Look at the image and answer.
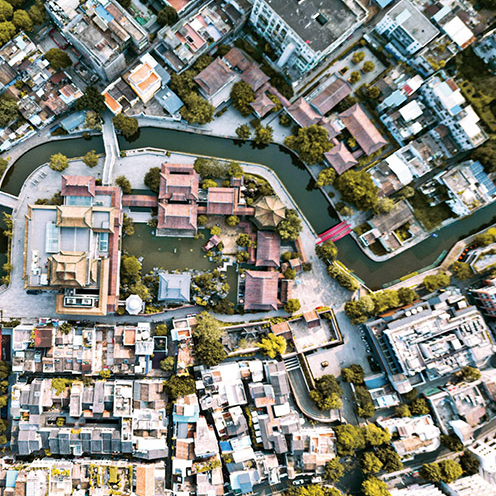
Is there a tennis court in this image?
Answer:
No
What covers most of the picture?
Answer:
buildings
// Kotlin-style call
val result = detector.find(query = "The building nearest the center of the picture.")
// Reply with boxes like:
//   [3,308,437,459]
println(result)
[252,231,280,267]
